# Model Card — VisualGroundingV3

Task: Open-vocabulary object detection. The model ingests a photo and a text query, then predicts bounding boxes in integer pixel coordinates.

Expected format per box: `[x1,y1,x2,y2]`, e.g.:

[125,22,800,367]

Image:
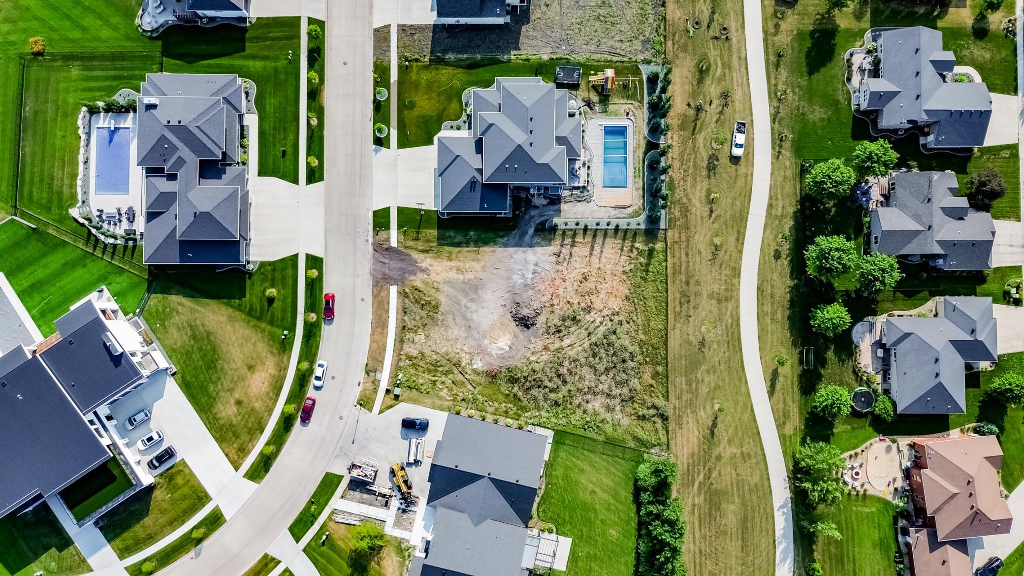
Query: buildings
[136,73,255,265]
[865,171,996,270]
[186,0,251,18]
[875,296,998,414]
[854,26,991,148]
[0,298,177,528]
[409,412,548,576]
[437,77,583,212]
[436,0,506,25]
[899,429,1014,576]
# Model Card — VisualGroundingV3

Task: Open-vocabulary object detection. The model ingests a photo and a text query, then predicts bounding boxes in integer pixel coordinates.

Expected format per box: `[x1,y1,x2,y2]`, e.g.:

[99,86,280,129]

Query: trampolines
[854,388,878,414]
[556,61,582,85]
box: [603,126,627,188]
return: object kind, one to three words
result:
swimming pool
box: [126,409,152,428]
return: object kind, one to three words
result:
car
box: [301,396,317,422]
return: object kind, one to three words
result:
car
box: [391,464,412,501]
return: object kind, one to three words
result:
work vehicle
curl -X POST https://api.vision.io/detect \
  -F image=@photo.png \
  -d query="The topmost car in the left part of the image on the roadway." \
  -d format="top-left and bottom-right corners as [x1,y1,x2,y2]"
[324,293,336,318]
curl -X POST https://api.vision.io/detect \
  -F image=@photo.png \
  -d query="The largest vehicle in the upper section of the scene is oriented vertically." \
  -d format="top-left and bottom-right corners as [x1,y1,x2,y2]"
[730,121,746,157]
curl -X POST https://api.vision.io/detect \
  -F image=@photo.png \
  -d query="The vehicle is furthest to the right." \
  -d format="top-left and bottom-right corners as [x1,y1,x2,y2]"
[974,553,1006,576]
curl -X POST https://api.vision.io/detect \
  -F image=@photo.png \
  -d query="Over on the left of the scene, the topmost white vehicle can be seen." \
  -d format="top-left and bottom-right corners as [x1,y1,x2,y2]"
[313,360,328,387]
